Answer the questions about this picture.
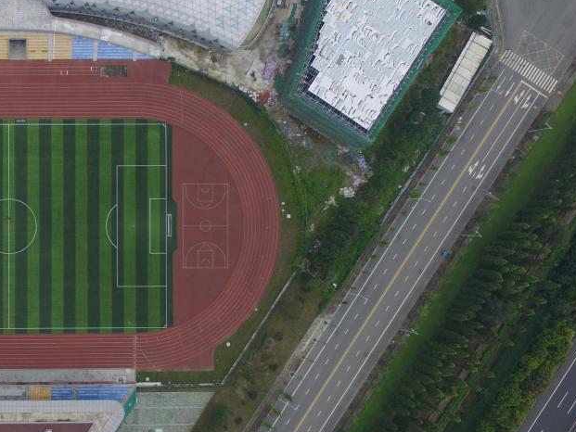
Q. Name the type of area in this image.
sports ground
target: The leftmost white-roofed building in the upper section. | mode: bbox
[279,0,461,145]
